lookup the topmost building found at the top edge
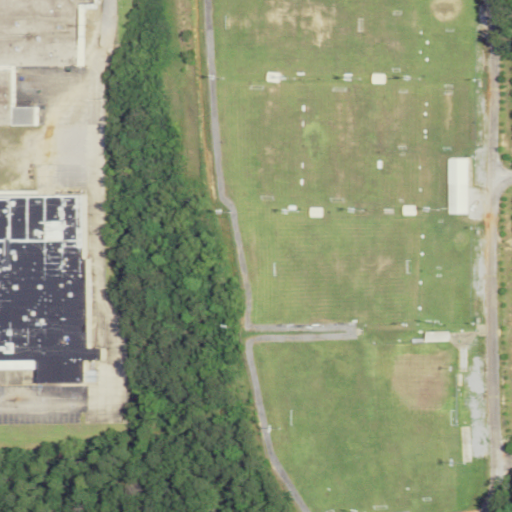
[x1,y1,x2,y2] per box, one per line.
[0,0,100,67]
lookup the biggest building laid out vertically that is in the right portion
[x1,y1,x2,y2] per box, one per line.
[450,157,475,214]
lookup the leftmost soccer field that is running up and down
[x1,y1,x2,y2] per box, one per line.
[248,87,300,199]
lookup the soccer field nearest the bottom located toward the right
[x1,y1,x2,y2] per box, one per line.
[291,346,453,498]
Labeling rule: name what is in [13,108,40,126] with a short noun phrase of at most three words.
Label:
building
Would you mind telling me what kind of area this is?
sports ground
